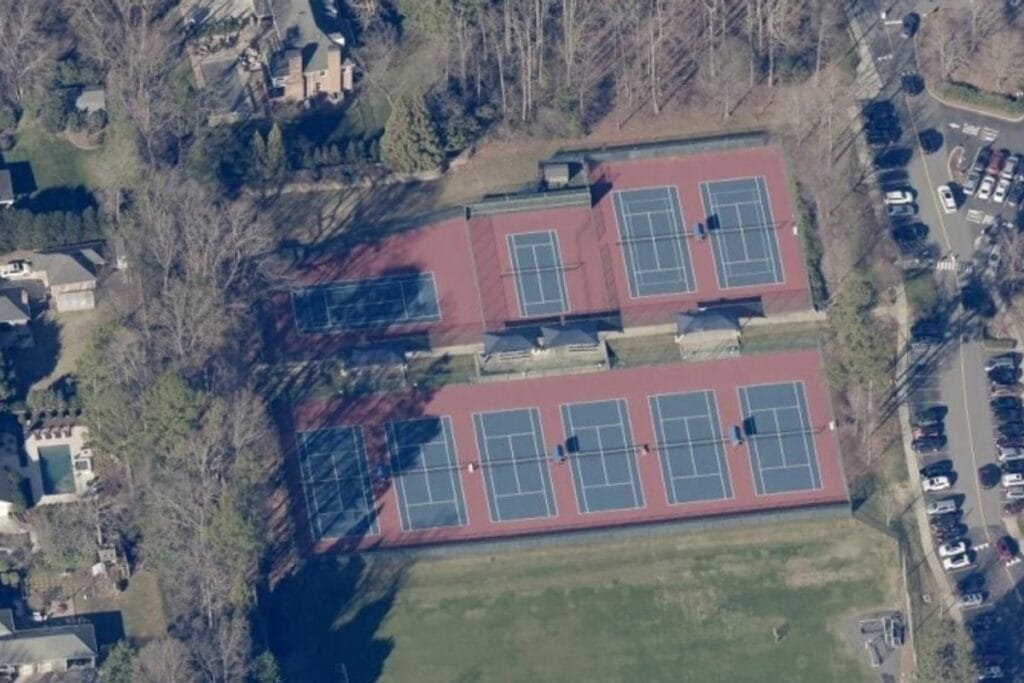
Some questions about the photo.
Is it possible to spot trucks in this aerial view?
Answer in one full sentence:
No, there appears to be no truck in this shot.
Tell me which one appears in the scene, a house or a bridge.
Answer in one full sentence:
I can see a house in this picture.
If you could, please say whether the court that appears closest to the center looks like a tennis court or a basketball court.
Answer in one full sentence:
The court that appears closest to the center can be classified as a tennis court.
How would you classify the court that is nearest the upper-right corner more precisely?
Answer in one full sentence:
It looks like the court that is nearest the upper-right corner is a tennis court.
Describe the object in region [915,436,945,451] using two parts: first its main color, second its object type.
blue car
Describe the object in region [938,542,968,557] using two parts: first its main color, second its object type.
white car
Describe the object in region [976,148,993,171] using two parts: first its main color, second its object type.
blue car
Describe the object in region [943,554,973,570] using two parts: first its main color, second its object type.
white car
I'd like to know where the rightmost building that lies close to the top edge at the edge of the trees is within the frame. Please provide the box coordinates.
[247,0,356,104]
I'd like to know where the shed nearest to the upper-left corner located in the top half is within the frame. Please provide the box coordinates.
[75,92,105,121]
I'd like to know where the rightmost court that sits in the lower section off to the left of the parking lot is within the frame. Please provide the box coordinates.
[736,380,823,496]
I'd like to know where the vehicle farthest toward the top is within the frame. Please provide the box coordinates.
[904,15,918,39]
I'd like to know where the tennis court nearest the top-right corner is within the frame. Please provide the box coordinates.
[700,176,785,289]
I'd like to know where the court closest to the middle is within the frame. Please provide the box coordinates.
[506,230,570,317]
